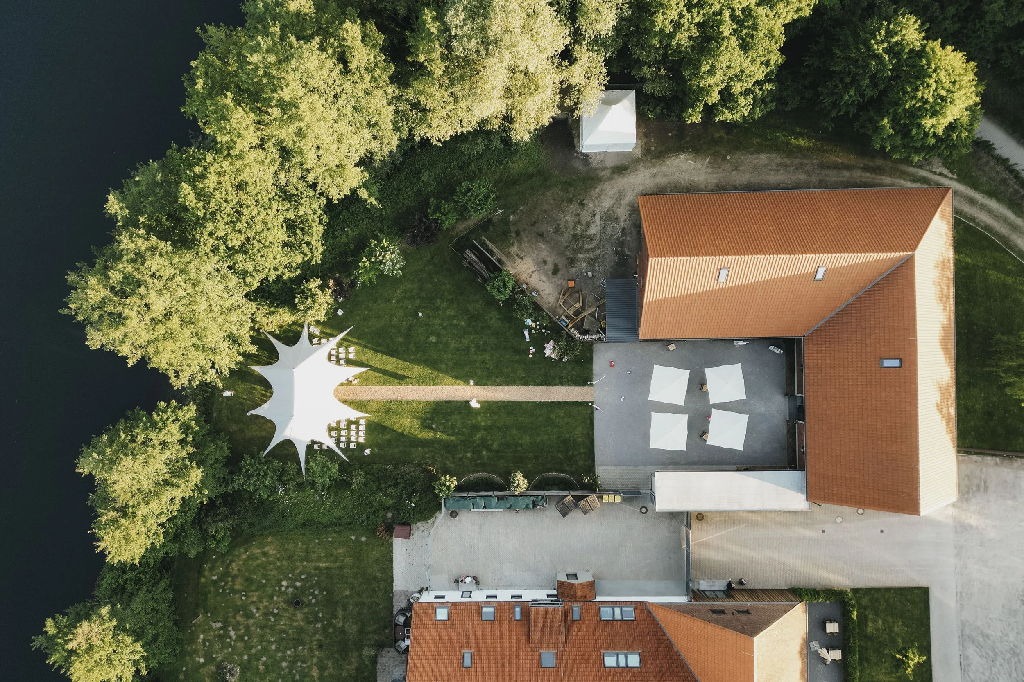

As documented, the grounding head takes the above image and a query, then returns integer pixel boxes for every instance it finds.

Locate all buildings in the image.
[394,522,412,538]
[404,579,809,682]
[635,185,960,515]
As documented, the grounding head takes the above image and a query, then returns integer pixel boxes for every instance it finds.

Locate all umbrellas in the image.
[650,412,688,451]
[706,408,749,451]
[704,363,746,404]
[809,641,830,661]
[648,365,690,406]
